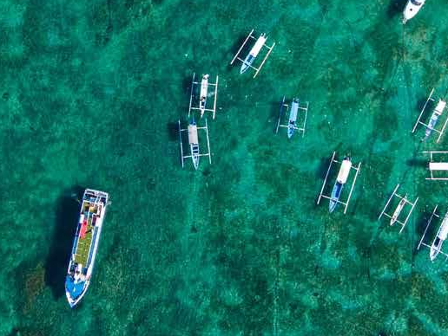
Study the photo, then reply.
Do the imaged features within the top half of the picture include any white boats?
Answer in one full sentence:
Yes, a white boat is visible within the top half of the picture.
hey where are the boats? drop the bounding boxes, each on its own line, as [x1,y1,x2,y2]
[380,185,418,233]
[178,117,212,169]
[402,0,425,24]
[277,95,309,139]
[412,90,448,143]
[190,72,219,118]
[232,29,274,78]
[418,206,448,261]
[317,153,361,213]
[423,152,448,180]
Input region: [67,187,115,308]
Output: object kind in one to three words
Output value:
ship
